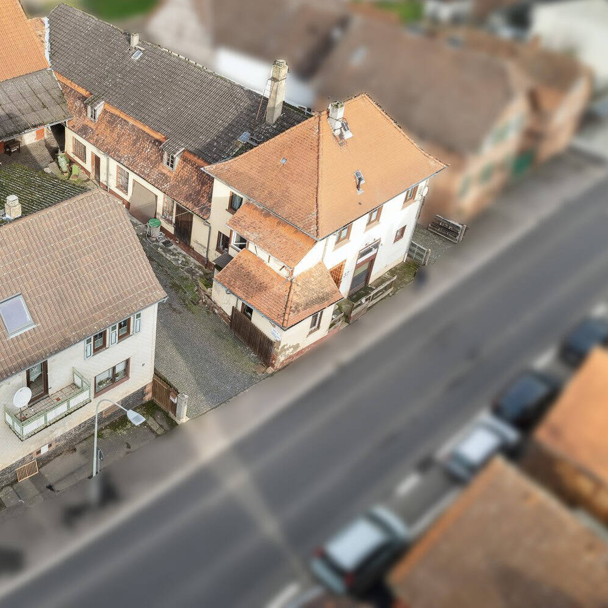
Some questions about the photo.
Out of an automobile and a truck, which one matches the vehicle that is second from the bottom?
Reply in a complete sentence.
I'd identify the vehicle that is second from the bottom as an automobile.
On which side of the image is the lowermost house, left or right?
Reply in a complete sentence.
The lowermost house appears in the right half of the scene.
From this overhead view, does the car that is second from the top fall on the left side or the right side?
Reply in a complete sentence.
The car that is second from the top appears in the right half of the scene.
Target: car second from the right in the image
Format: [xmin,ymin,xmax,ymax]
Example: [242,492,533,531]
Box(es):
[500,363,572,425]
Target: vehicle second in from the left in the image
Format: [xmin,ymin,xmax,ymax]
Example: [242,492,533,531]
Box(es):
[441,419,521,487]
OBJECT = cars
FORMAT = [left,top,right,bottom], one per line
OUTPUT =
[562,317,608,365]
[500,363,572,425]
[441,419,521,487]
[320,507,413,597]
